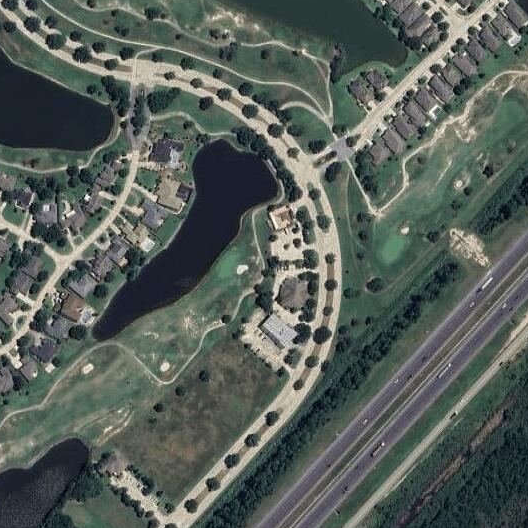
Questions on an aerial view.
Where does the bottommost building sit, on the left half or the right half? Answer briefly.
left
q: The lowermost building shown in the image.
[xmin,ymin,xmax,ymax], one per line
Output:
[102,451,129,479]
